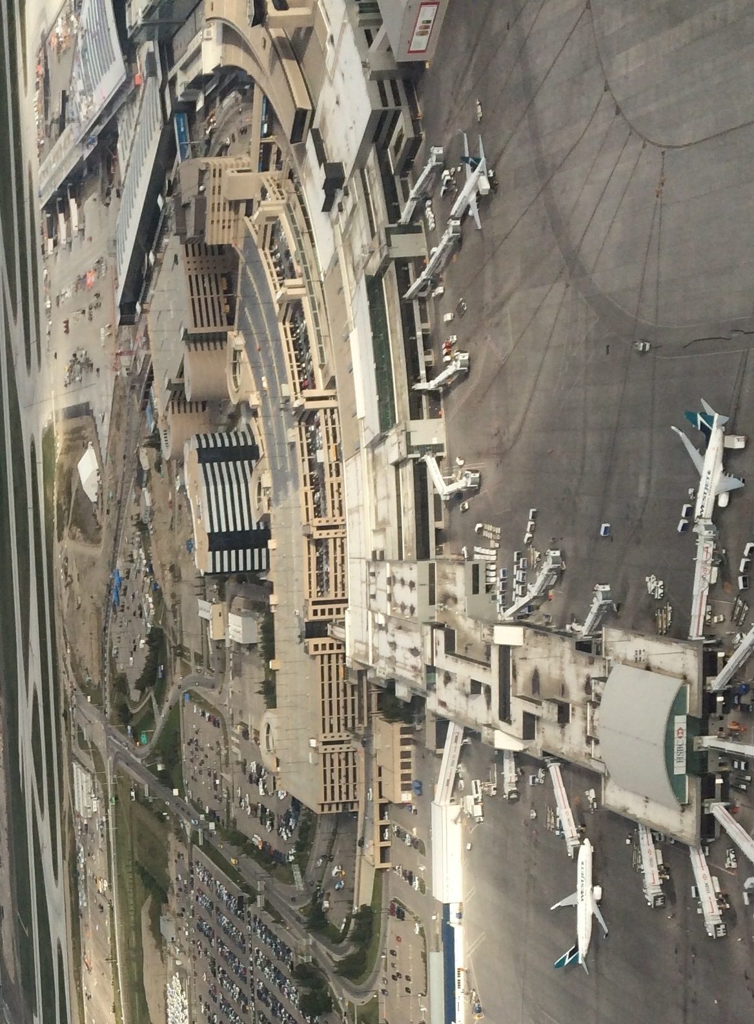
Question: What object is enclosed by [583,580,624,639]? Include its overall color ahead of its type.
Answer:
gray jet bridge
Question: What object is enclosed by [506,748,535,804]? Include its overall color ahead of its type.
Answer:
gray jet bridge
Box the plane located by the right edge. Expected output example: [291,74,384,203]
[674,388,744,528]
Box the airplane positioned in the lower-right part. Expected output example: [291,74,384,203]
[546,841,603,967]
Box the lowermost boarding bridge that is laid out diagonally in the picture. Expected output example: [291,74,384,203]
[710,801,754,865]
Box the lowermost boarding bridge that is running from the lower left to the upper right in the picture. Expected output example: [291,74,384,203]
[712,632,754,695]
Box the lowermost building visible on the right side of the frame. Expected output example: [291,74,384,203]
[428,902,480,1024]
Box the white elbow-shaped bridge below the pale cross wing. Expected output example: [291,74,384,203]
[424,451,488,496]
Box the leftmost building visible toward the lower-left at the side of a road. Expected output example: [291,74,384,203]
[73,764,99,817]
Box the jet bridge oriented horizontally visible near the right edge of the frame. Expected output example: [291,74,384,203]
[697,735,754,757]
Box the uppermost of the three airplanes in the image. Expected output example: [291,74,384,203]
[453,127,485,231]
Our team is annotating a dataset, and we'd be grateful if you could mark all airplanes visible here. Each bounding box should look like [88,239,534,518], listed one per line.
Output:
[453,127,485,231]
[674,388,744,528]
[546,841,603,967]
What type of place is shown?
airport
